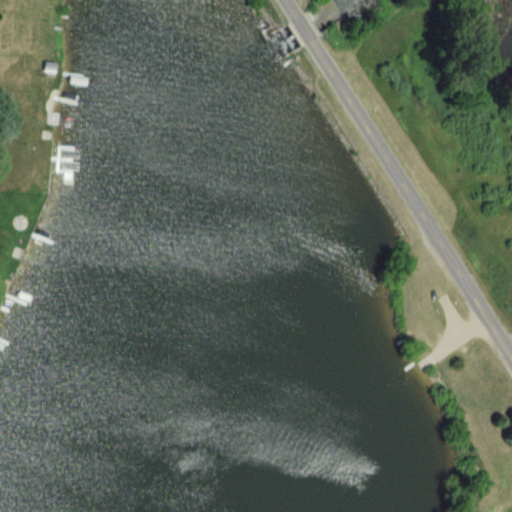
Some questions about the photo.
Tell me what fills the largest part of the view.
water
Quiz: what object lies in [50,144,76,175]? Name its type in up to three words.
pier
